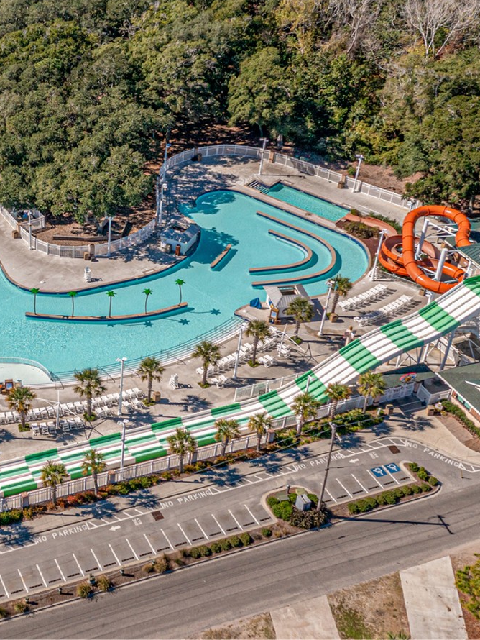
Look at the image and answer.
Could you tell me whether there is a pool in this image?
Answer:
Yes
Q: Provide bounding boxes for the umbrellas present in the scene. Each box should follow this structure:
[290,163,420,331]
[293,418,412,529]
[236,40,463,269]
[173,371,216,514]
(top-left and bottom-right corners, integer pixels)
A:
[250,291,263,310]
